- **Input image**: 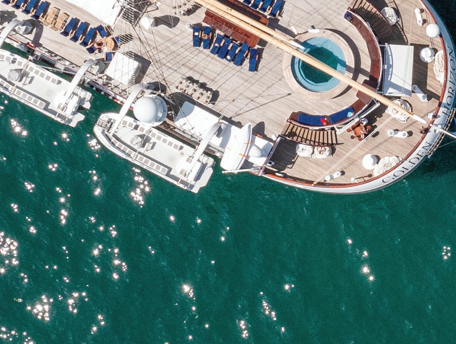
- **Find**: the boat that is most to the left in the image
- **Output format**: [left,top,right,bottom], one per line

[0,49,93,128]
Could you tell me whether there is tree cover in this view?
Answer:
No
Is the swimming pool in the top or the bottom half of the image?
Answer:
top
